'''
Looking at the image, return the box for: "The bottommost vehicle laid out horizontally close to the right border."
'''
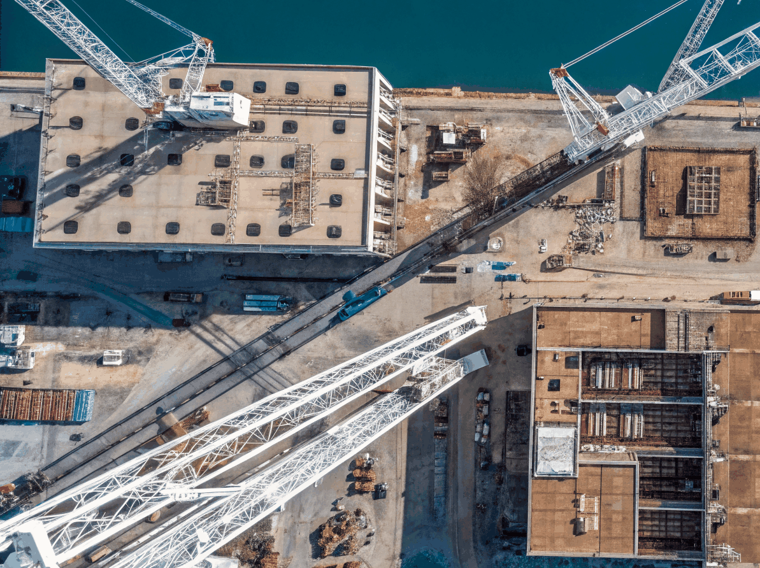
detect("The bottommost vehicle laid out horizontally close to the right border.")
[724,290,760,303]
